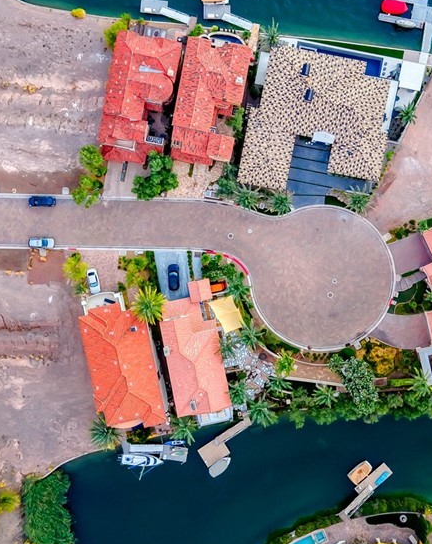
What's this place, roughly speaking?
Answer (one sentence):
The area seen from above is a residential area.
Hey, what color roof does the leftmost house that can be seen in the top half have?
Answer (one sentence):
From above, the roof of the leftmost house that can be seen in the top half looks red.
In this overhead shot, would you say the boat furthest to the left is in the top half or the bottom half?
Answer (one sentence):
It is in the bottom half that the boat furthest to the left appears.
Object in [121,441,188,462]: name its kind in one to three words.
pier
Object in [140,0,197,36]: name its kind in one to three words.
pier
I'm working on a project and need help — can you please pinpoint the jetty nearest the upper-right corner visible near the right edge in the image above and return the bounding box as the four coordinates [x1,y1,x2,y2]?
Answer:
[379,0,432,63]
